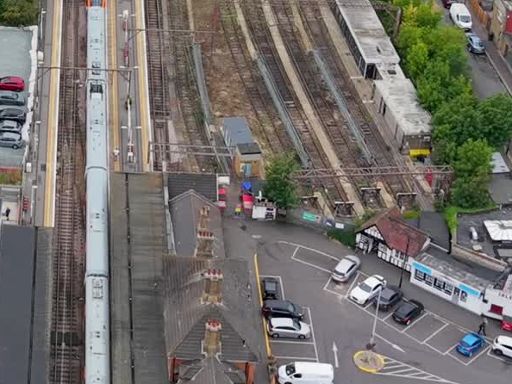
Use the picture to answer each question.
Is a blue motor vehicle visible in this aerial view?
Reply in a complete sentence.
Yes, the picture does show a blue motor vehicle.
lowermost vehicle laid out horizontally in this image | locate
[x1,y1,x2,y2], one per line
[279,360,335,384]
